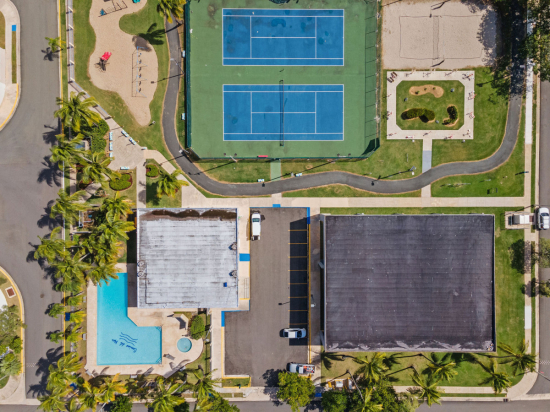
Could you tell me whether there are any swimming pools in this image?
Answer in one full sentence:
Yes, the picture does show a swimming pool.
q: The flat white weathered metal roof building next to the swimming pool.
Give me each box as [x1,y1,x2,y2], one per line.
[136,208,238,308]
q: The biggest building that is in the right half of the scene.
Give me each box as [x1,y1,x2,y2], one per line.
[316,209,495,351]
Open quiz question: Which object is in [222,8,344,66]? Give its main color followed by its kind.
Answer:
blue tennis court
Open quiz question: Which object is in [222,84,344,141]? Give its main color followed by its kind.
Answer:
blue tennis court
